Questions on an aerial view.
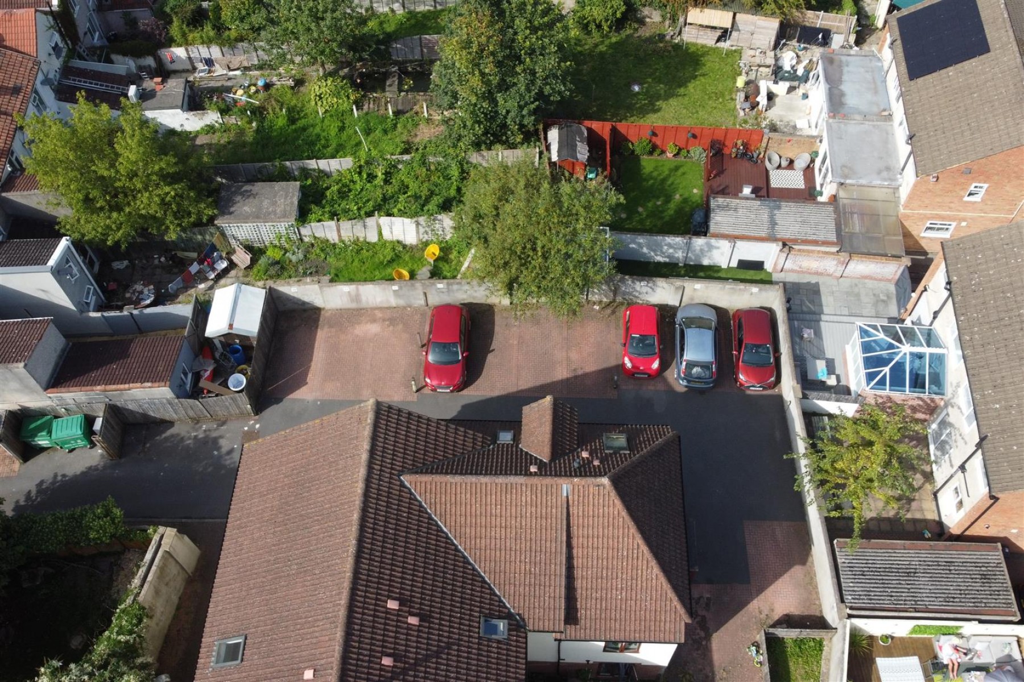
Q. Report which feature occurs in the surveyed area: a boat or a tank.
boat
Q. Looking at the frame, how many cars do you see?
4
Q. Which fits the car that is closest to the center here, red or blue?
red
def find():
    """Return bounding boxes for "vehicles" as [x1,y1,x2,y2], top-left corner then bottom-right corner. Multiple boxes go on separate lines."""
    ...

[673,306,721,391]
[728,304,783,390]
[420,303,472,392]
[618,300,665,377]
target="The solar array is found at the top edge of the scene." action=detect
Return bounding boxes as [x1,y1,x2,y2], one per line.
[896,0,990,79]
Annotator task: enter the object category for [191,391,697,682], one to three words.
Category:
building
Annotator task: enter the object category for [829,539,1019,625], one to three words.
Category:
building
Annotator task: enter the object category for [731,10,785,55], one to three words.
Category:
shed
